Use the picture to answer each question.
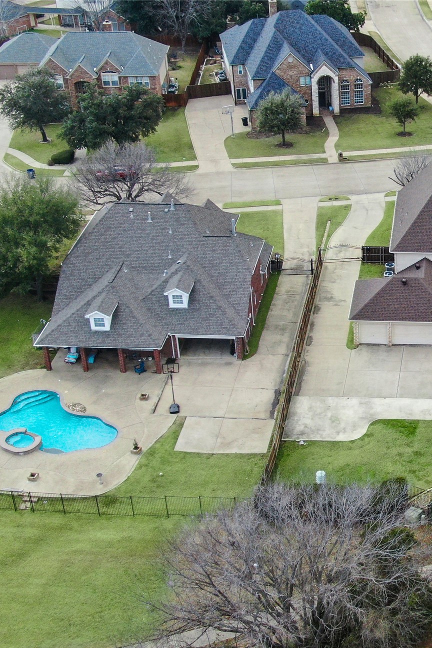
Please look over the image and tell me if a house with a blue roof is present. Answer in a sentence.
Yes, a house with a blue roof appears in the view.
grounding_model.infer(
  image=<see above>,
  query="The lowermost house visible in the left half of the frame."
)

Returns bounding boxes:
[31,189,277,373]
